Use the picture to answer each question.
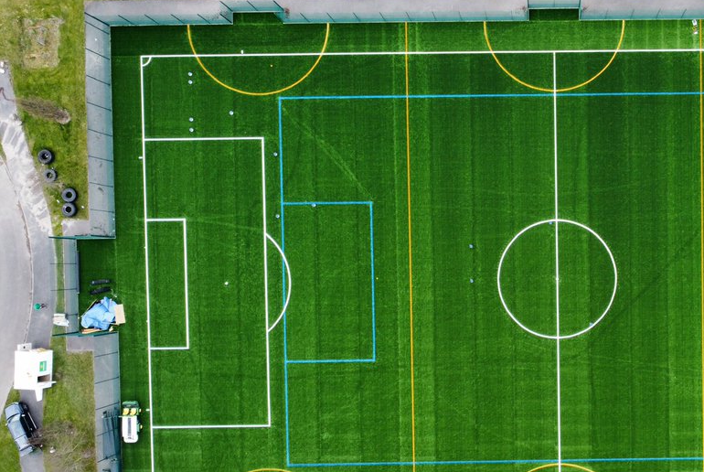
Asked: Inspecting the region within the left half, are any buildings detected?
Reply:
Yes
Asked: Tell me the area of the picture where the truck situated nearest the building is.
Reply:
bottom left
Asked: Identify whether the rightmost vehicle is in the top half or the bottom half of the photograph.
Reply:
bottom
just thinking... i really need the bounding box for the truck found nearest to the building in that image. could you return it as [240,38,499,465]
[0,398,41,456]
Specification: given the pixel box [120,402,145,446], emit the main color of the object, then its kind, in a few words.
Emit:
white vehicle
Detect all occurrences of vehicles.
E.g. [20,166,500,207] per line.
[0,398,41,456]
[120,402,145,446]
